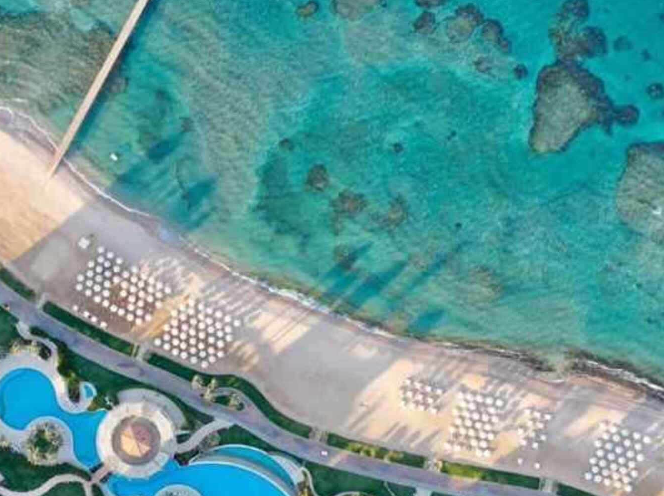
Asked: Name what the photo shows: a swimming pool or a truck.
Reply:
swimming pool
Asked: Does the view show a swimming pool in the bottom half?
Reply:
Yes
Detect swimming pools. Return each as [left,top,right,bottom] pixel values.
[83,382,95,400]
[109,459,284,496]
[0,366,108,468]
[204,444,298,493]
